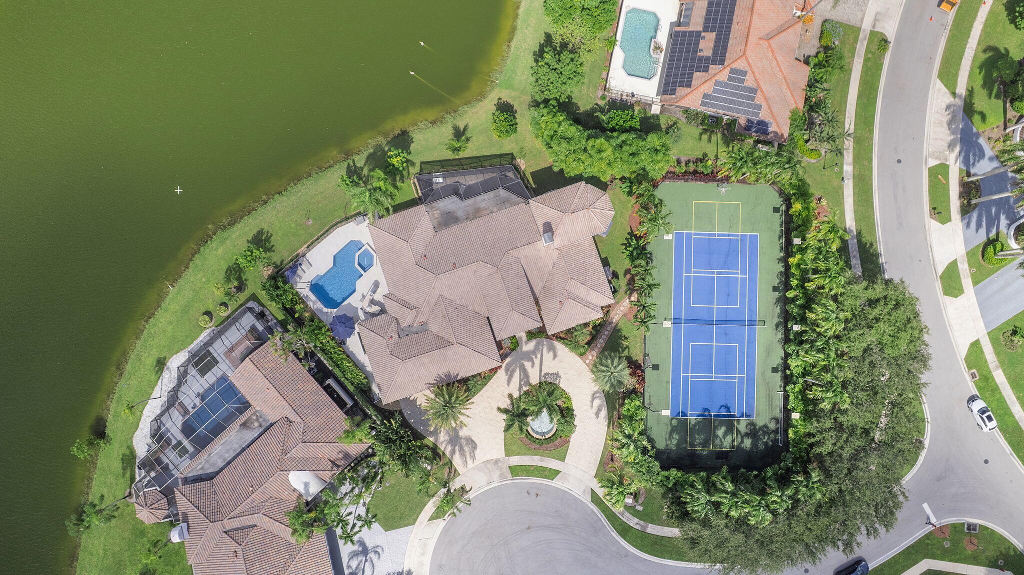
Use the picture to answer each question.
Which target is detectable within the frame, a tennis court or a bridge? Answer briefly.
tennis court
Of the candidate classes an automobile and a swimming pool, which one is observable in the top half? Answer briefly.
swimming pool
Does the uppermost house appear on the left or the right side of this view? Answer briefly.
right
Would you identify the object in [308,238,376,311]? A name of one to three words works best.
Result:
swimming pool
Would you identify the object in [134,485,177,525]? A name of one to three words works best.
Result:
gazebo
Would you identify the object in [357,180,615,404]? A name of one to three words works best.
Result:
house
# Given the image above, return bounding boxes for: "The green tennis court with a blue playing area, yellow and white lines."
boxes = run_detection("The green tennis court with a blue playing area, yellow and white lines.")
[644,182,787,469]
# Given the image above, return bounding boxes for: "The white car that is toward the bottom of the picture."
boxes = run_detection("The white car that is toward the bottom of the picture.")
[967,397,1000,434]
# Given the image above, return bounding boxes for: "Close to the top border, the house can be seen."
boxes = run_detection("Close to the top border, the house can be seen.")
[660,0,815,144]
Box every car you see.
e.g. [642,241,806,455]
[967,397,1000,434]
[831,559,868,575]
